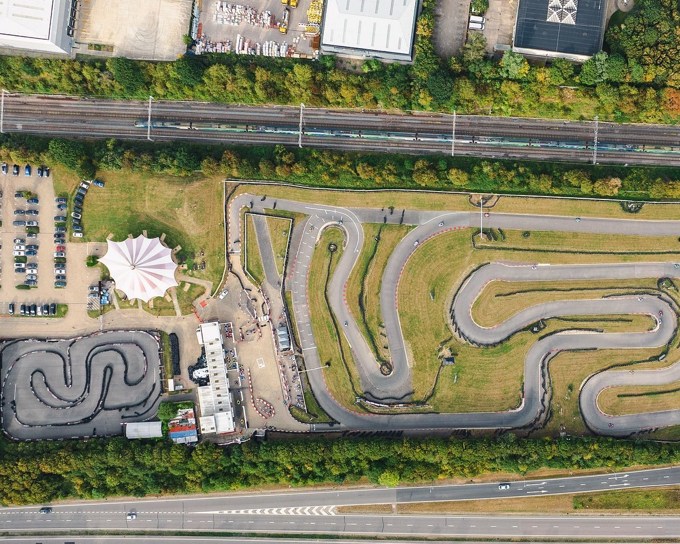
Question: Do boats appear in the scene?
No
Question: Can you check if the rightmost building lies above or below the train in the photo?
above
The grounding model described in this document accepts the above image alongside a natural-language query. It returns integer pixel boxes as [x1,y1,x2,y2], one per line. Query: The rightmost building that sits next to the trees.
[513,0,606,59]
